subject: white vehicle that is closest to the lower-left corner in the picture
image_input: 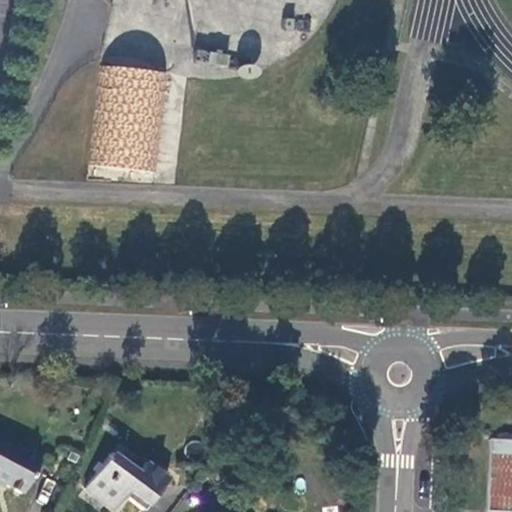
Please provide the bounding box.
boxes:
[36,476,56,504]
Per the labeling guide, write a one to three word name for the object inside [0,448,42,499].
house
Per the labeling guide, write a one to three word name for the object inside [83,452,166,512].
house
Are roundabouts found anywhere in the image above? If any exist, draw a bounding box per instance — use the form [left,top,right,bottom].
[352,326,448,420]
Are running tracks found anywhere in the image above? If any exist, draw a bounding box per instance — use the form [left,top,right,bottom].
[410,0,512,83]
